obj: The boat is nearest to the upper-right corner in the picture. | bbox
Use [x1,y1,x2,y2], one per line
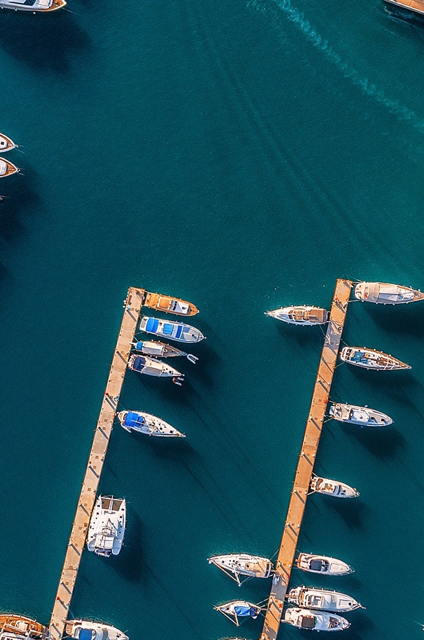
[348,281,424,306]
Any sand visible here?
No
